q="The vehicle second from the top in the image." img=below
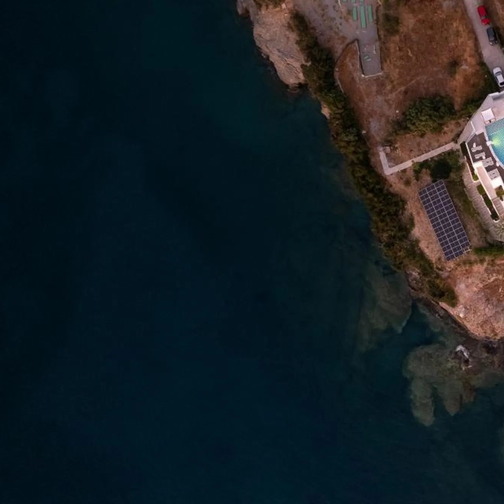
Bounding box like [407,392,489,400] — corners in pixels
[484,26,500,47]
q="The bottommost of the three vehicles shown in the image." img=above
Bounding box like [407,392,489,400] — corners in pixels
[492,66,504,88]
